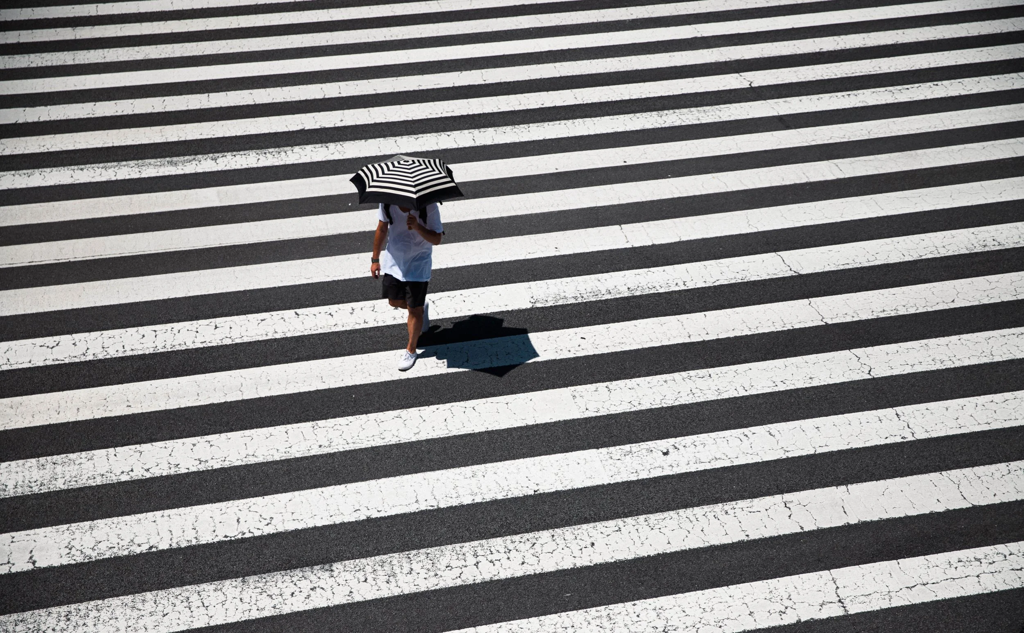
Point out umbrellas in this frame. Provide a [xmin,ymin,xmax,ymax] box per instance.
[349,157,465,229]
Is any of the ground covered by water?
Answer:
No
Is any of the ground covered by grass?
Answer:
No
